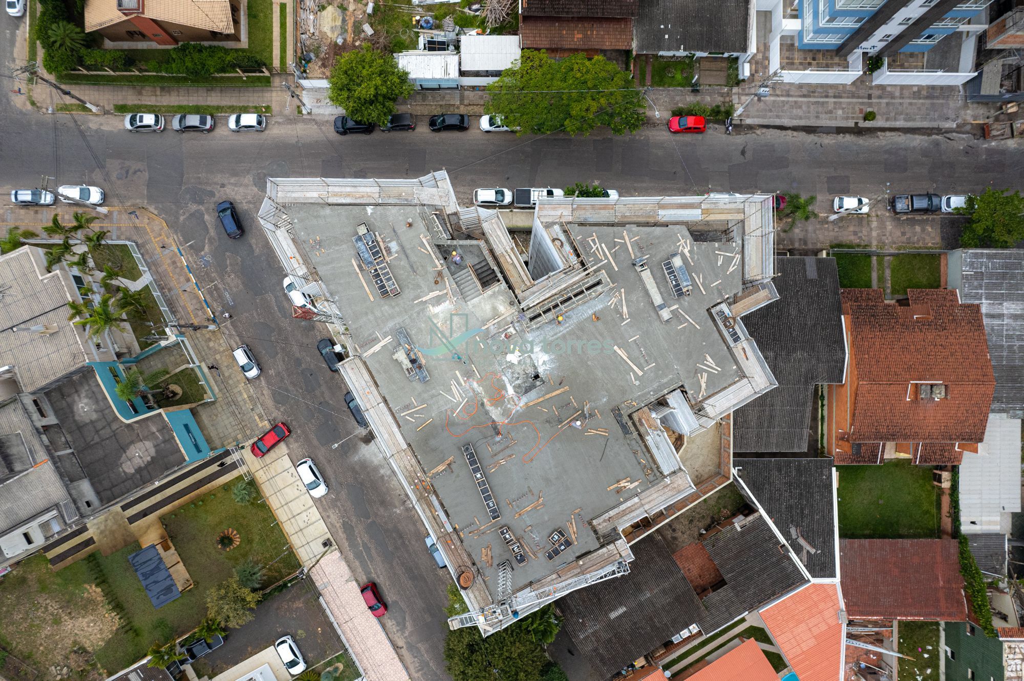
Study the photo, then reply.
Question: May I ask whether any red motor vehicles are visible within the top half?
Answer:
Yes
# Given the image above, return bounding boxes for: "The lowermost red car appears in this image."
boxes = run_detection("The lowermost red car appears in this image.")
[359,578,389,619]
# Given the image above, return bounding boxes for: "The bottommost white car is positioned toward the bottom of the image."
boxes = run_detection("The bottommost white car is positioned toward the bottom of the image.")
[274,632,307,676]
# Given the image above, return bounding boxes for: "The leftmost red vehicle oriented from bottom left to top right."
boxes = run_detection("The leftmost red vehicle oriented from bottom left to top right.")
[251,422,292,456]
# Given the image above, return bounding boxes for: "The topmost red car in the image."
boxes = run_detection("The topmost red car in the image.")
[667,113,706,135]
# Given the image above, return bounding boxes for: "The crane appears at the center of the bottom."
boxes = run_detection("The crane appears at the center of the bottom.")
[445,557,631,632]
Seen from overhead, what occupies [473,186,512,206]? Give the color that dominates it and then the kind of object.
white car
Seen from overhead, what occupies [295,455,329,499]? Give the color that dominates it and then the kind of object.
white car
